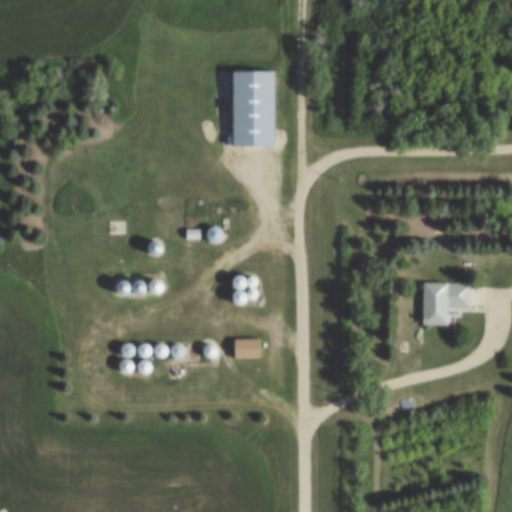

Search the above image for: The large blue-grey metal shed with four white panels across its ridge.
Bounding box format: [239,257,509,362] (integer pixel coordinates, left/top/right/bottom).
[232,69,276,146]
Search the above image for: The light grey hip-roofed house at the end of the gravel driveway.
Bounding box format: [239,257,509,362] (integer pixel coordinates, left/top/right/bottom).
[424,283,480,327]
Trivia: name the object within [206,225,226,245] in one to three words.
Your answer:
silo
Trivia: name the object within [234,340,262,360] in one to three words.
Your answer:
shed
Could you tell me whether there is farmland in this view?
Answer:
Yes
